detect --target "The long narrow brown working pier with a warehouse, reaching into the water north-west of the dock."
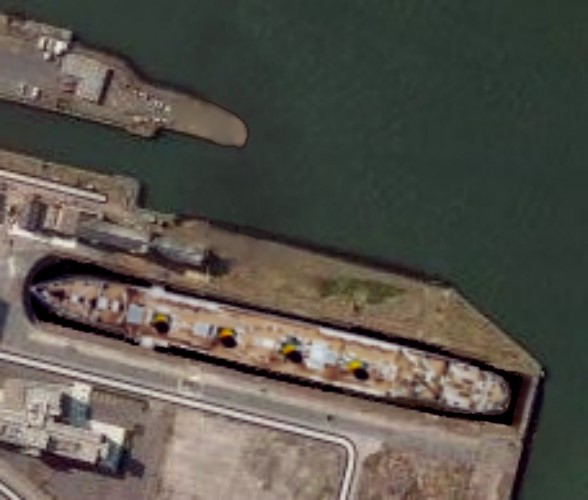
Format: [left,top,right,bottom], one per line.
[0,10,248,146]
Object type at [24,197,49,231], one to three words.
building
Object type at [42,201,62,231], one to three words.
building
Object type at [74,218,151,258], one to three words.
shed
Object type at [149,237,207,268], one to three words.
shed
